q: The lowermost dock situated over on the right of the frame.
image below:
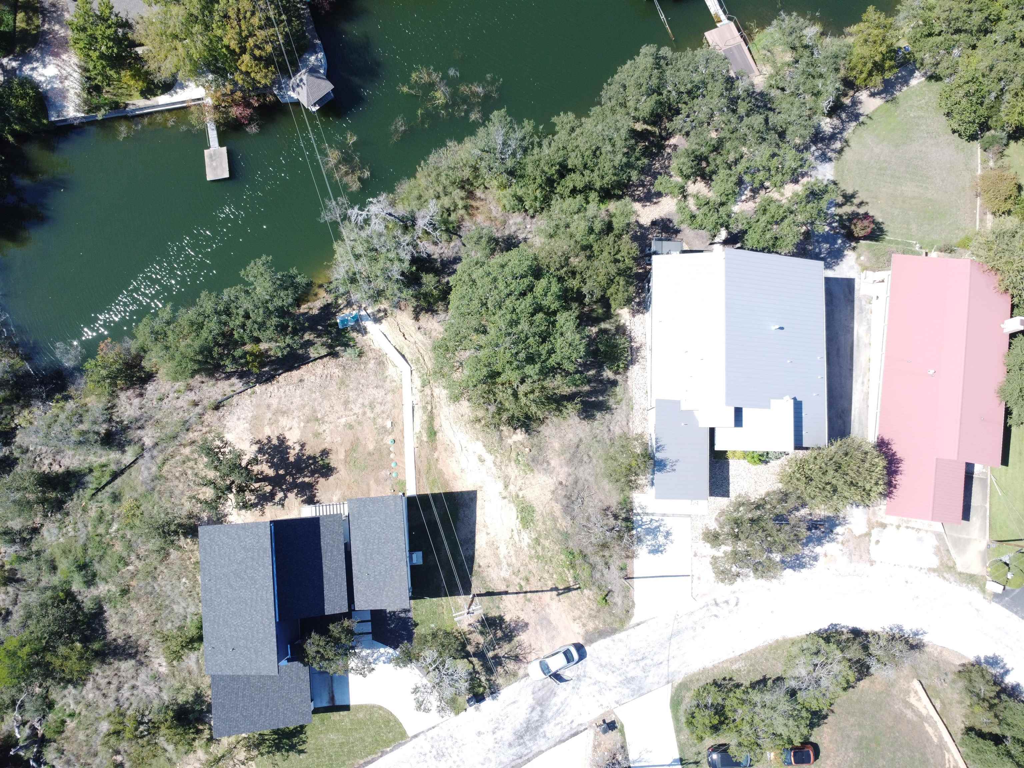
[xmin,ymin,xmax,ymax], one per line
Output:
[702,17,761,84]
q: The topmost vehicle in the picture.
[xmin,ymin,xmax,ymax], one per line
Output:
[526,644,583,690]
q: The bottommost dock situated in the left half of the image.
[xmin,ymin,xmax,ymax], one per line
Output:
[204,146,232,183]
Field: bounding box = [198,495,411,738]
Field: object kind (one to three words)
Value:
house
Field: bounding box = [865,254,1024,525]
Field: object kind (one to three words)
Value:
house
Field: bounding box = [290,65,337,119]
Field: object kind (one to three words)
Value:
gazebo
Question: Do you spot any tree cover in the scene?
Yes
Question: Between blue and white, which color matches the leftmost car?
white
